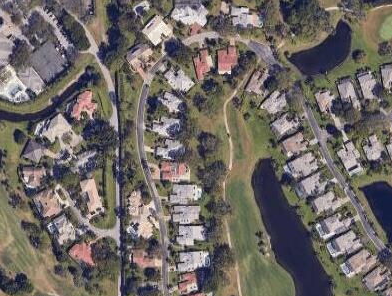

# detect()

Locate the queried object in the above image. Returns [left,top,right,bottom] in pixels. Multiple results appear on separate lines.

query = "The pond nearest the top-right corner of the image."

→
[288,19,352,75]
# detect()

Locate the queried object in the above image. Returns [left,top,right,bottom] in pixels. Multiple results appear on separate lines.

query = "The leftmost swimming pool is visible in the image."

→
[0,67,31,103]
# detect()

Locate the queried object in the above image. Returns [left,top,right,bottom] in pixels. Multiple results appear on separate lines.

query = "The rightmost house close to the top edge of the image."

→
[231,7,260,27]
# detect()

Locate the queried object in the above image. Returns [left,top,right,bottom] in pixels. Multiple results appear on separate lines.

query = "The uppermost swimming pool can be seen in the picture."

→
[134,1,151,17]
